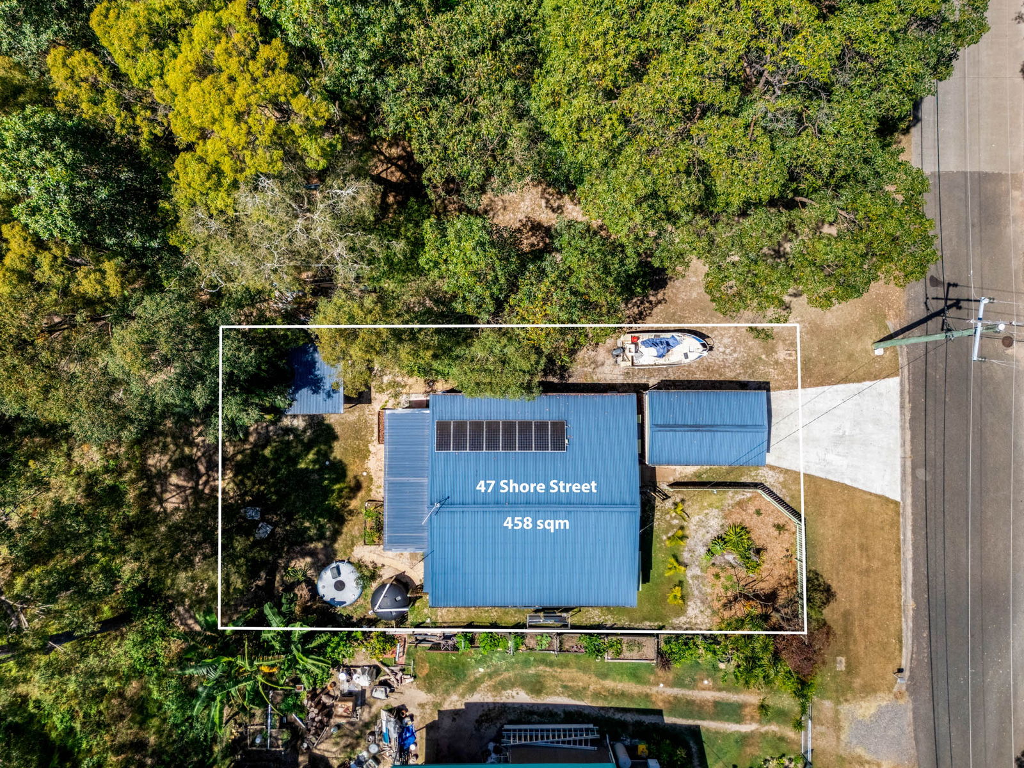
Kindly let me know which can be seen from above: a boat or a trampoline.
boat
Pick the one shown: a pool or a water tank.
water tank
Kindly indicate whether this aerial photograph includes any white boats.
Yes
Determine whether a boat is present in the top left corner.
No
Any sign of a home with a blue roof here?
Yes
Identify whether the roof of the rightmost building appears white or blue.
blue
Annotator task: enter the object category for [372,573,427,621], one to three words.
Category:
water tank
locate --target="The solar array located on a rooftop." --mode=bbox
[434,421,569,451]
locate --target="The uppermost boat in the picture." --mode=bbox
[612,332,717,369]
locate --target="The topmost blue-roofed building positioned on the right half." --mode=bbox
[640,385,771,468]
